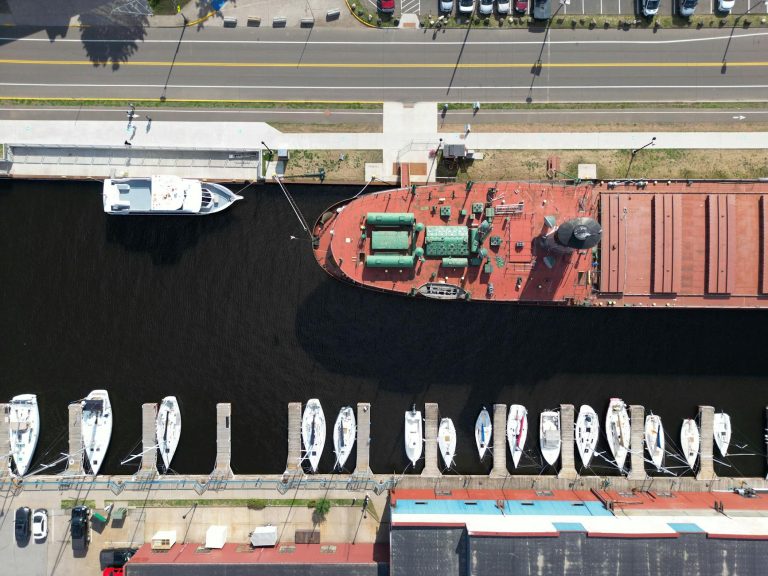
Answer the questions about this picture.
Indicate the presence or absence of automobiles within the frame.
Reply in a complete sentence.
Yes, the frame does contain an automobile.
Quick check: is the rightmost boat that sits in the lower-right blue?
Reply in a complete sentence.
No, the rightmost boat that sits in the lower-right is actually white.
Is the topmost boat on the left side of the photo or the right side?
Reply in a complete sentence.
The topmost boat is on the left side of the image.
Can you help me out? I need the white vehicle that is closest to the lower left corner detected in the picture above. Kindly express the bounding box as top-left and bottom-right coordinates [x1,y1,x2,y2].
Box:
[32,507,50,538]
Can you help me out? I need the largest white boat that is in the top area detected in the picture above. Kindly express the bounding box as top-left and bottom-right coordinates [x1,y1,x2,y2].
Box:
[104,176,242,214]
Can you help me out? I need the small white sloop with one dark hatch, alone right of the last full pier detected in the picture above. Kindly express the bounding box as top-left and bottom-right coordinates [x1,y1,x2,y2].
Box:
[714,410,760,460]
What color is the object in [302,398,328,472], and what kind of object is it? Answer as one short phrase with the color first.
white boat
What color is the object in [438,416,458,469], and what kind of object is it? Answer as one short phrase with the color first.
white boat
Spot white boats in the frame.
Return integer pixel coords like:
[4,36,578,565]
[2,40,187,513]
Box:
[128,394,184,472]
[714,410,760,460]
[602,396,665,473]
[302,398,328,472]
[404,407,424,471]
[39,388,118,478]
[0,392,45,476]
[644,412,688,471]
[507,404,536,469]
[538,410,562,466]
[332,405,357,469]
[104,176,242,214]
[678,418,723,471]
[438,416,458,469]
[574,404,620,474]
